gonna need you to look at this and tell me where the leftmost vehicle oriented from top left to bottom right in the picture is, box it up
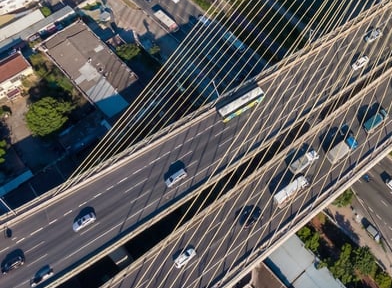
[151,7,176,30]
